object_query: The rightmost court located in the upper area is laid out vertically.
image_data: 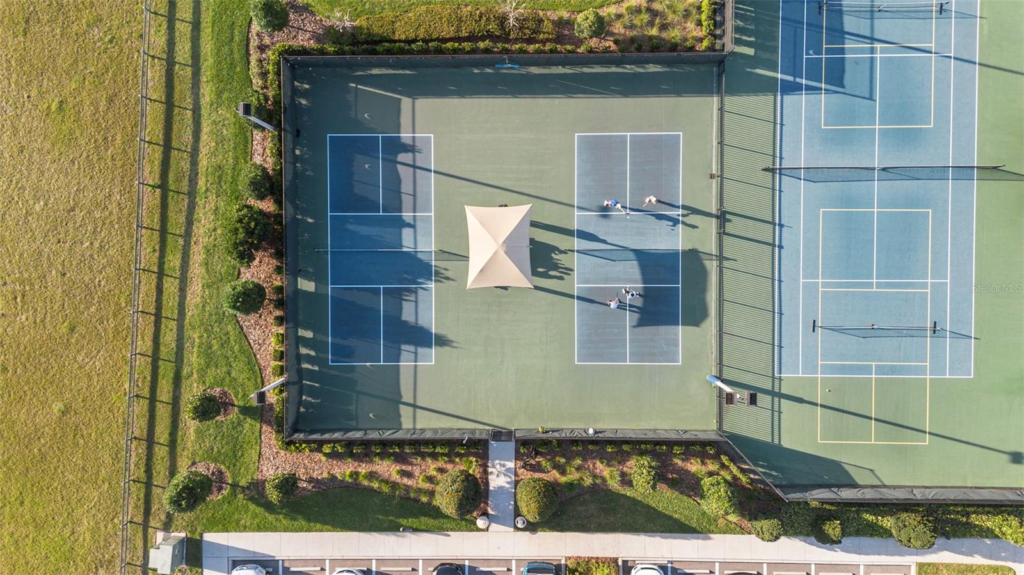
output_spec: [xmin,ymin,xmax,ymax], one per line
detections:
[776,0,980,444]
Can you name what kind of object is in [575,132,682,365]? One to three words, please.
sports court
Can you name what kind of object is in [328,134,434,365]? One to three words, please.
sports court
